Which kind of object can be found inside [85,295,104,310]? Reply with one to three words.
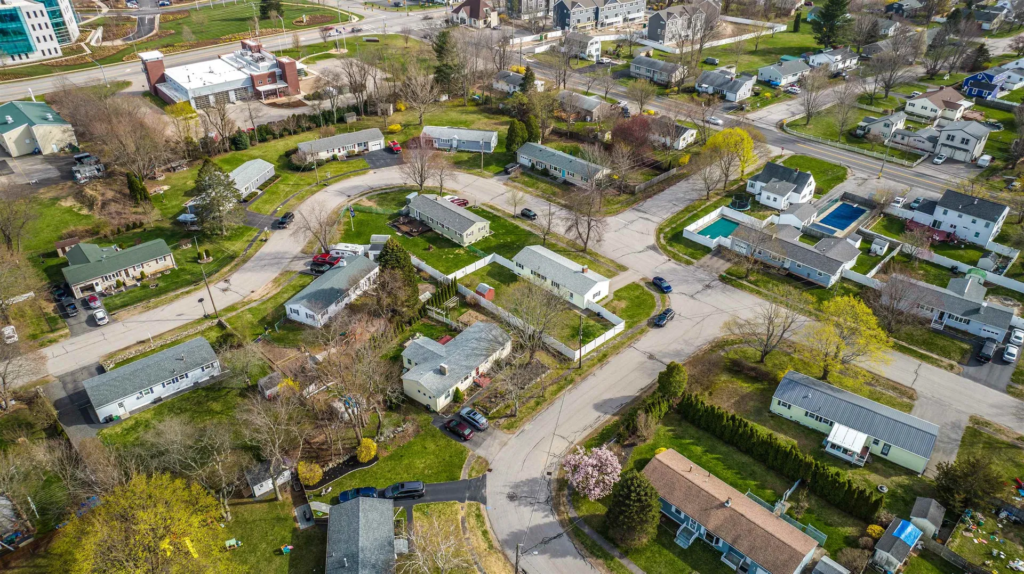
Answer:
car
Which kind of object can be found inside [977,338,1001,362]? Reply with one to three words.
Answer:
truck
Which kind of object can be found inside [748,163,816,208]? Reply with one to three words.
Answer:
house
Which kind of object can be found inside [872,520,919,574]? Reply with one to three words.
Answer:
shed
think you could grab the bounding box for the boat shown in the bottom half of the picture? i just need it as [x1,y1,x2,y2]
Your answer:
[302,381,334,399]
